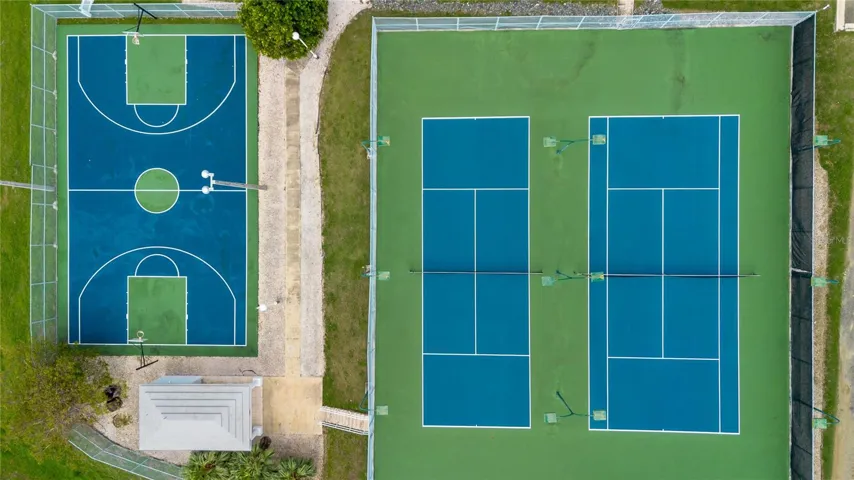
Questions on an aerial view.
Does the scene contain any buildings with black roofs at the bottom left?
No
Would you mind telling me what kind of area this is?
sports ground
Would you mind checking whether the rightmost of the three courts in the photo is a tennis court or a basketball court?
tennis court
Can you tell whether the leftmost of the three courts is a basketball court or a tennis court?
basketball court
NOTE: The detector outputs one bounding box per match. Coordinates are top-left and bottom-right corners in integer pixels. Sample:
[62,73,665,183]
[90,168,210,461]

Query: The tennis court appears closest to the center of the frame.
[422,116,531,430]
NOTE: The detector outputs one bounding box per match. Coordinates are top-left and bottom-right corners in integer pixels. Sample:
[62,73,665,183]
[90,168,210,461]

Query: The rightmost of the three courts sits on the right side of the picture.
[589,114,740,435]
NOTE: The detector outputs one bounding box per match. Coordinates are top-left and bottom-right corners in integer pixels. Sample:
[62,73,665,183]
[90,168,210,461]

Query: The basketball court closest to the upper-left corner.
[57,23,259,357]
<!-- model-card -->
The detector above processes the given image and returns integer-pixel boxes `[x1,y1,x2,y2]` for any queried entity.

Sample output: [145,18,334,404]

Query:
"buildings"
[139,375,262,450]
